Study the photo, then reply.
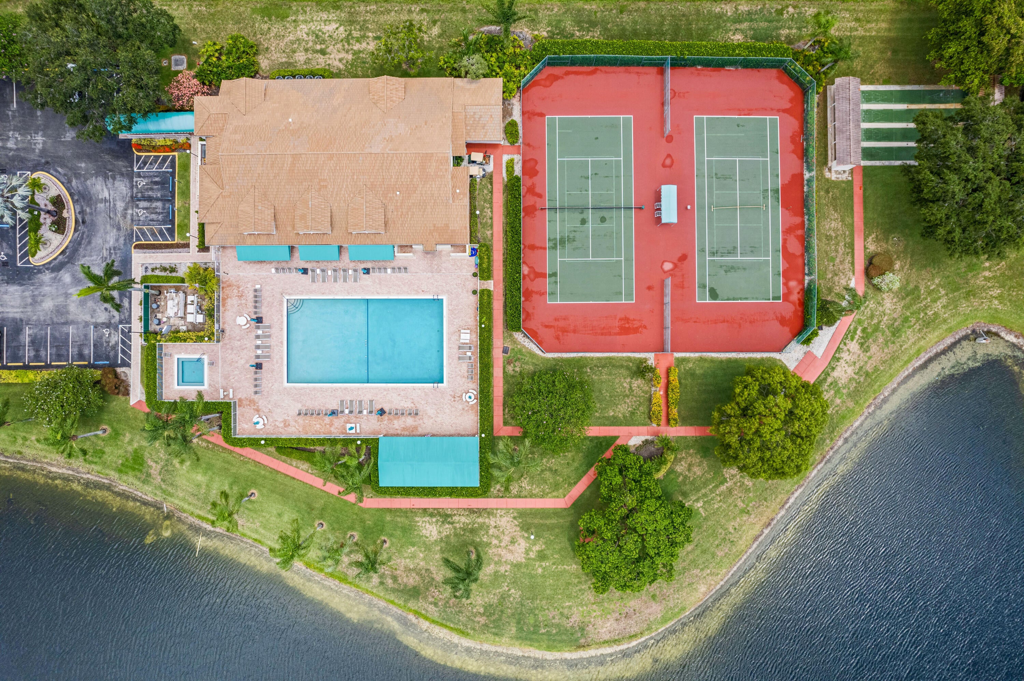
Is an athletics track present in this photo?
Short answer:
No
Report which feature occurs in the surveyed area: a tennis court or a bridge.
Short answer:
tennis court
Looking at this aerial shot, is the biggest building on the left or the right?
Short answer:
left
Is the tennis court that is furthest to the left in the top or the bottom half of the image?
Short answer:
top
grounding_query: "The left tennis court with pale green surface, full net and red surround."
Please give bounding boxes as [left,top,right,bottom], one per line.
[522,66,664,352]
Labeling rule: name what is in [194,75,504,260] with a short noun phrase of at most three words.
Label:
building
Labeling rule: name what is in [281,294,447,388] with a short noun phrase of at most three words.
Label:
swimming pool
